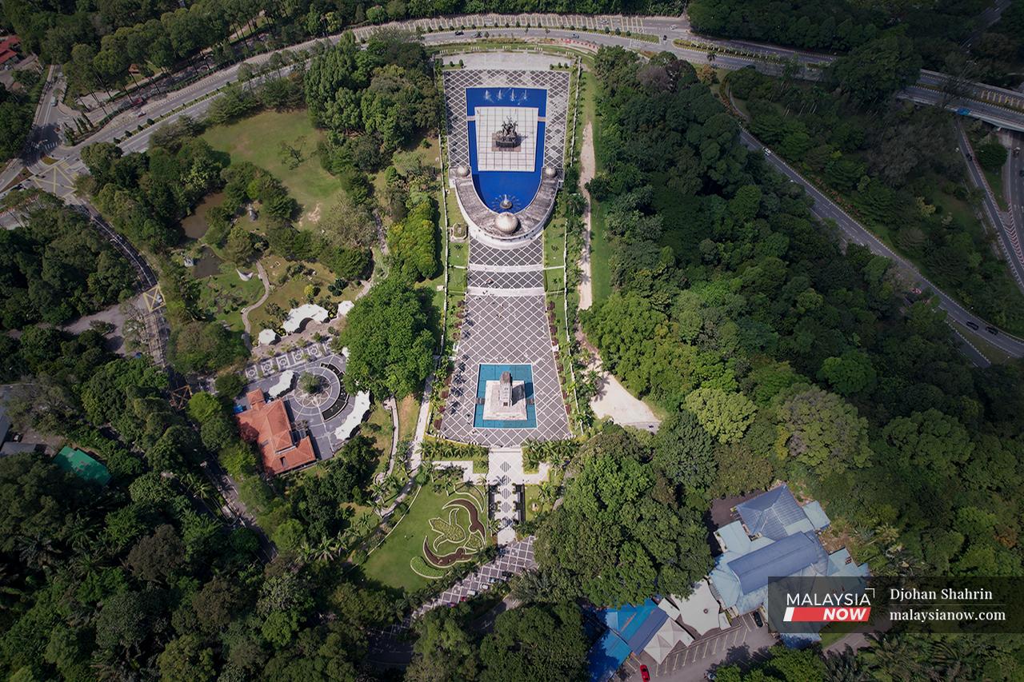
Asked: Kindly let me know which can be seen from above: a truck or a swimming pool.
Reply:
swimming pool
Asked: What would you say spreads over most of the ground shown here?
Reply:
trees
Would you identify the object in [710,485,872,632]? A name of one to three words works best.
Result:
building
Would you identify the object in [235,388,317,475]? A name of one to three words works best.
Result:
building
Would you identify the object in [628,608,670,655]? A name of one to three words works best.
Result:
shed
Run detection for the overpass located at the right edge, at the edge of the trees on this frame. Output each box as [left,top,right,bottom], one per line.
[897,71,1024,139]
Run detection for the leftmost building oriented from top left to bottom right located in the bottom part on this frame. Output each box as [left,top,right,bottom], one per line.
[57,446,117,487]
